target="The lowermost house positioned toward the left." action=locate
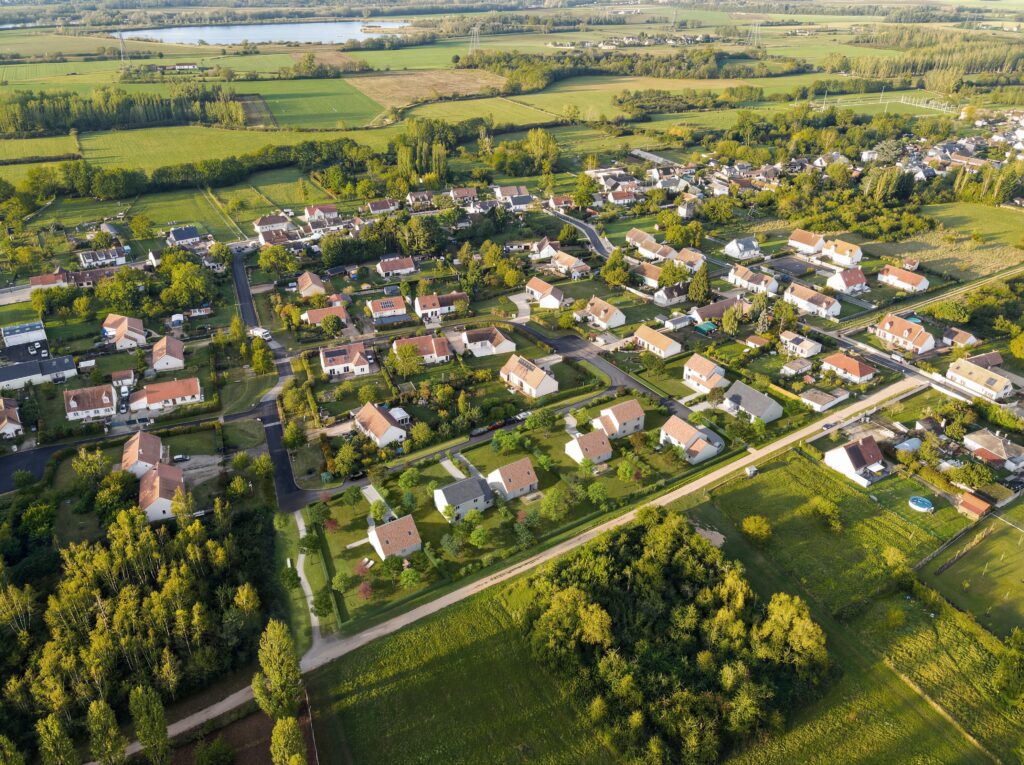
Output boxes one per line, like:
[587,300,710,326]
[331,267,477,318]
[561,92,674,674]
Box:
[369,514,420,559]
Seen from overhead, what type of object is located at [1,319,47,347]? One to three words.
barn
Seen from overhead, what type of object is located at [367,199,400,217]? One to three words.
house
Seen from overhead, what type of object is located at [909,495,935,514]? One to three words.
swimming pool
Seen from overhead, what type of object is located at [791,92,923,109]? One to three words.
sports field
